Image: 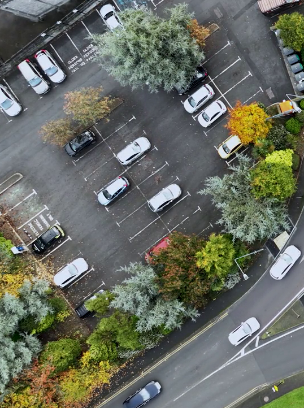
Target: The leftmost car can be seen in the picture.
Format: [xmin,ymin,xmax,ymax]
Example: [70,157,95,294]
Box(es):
[0,82,24,118]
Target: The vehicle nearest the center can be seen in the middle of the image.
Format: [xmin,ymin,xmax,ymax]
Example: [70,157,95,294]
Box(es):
[146,183,184,212]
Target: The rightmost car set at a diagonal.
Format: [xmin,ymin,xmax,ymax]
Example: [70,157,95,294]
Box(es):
[268,245,302,281]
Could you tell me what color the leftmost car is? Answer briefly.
white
